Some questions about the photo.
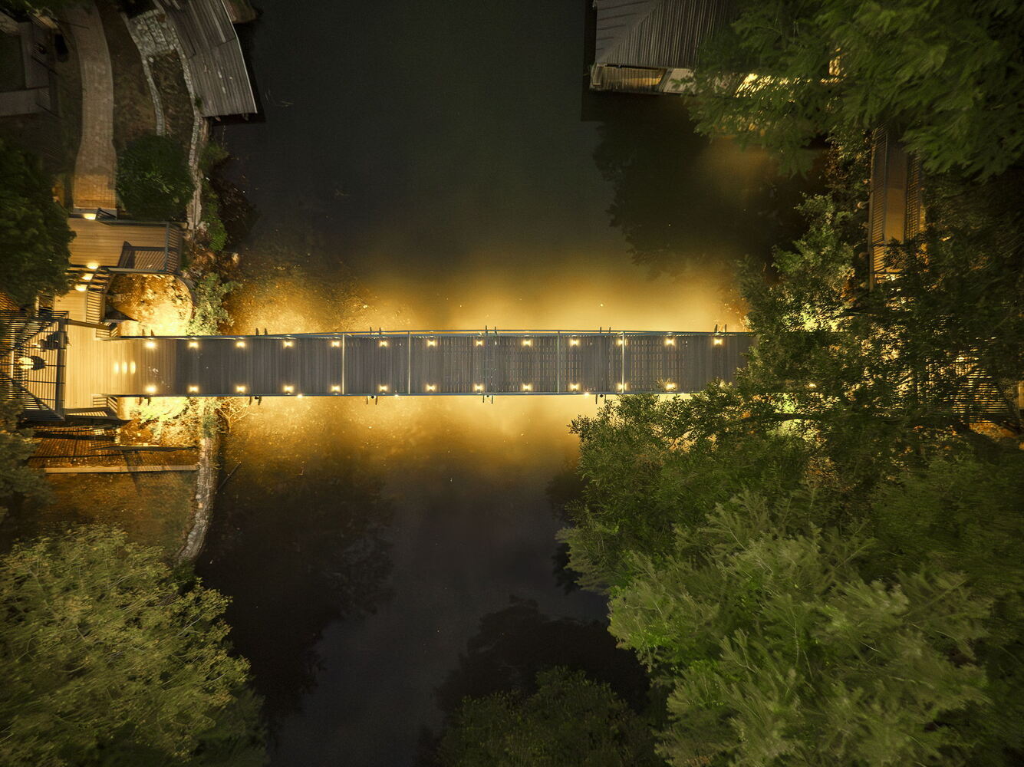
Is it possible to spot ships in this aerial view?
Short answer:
No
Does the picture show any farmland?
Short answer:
No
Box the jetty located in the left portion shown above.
[160,0,259,124]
